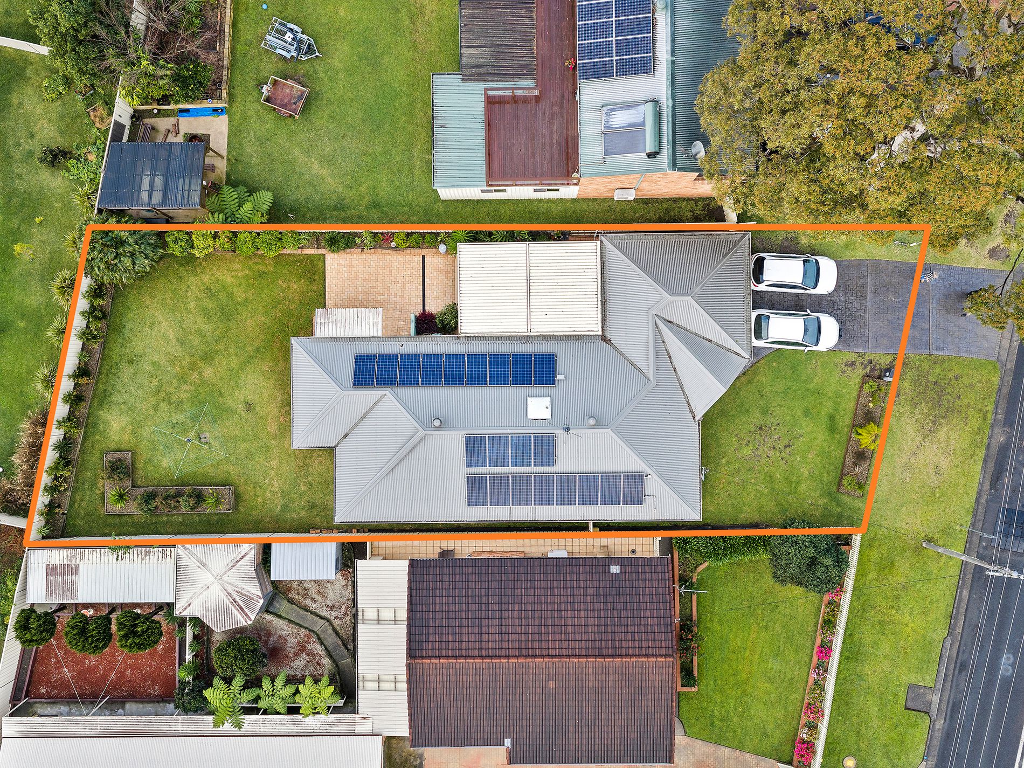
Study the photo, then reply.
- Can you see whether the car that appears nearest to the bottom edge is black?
No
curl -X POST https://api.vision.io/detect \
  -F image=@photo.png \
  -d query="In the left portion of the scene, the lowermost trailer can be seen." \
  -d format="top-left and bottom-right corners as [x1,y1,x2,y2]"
[255,75,311,122]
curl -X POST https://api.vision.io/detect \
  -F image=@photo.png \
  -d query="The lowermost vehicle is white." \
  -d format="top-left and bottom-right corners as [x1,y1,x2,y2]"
[753,309,836,352]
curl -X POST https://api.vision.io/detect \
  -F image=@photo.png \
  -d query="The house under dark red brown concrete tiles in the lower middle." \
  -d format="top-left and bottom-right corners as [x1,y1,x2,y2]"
[404,554,682,766]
